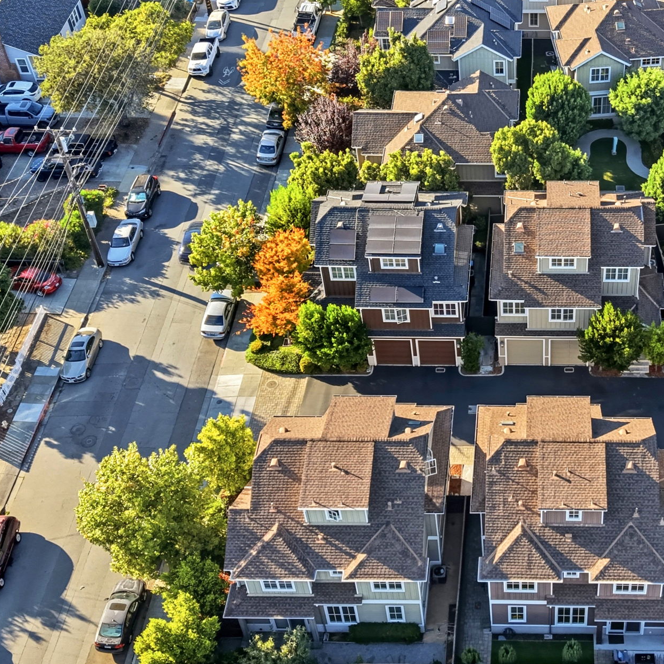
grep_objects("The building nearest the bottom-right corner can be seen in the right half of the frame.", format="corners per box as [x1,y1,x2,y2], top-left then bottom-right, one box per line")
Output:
[469,400,664,653]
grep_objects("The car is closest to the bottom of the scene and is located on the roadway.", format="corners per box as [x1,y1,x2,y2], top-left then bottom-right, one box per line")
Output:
[92,584,149,655]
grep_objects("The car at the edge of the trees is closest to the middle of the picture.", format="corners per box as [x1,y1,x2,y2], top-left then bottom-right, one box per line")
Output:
[199,295,238,343]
